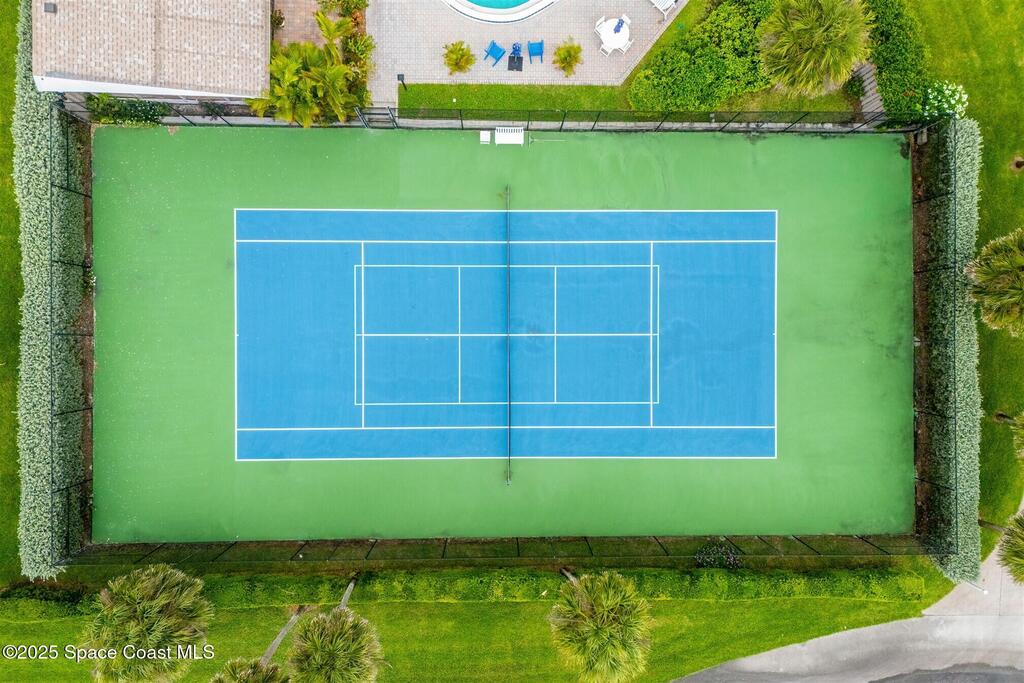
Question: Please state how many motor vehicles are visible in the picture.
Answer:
0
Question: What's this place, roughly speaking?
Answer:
sports ground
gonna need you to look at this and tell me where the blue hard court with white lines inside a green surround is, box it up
[92,125,915,543]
